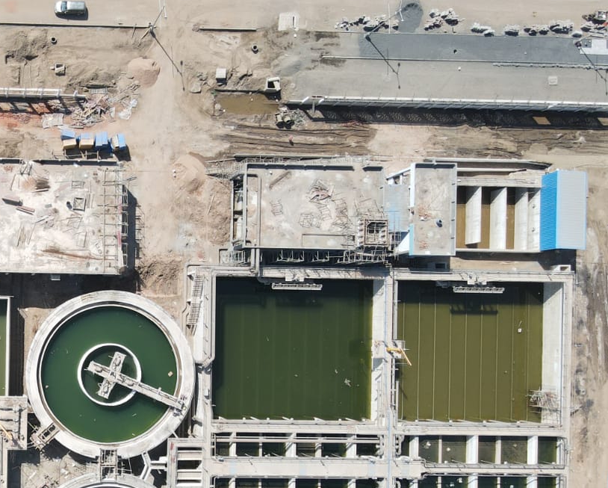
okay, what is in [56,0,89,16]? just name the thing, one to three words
vehicle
